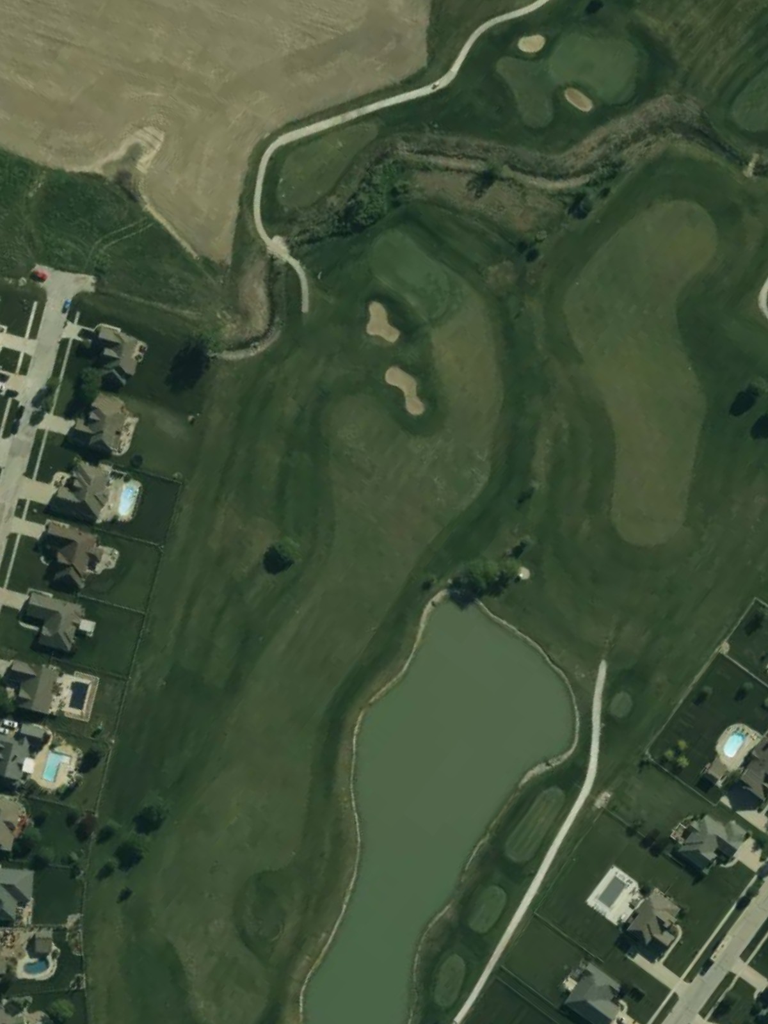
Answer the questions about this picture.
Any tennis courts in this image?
No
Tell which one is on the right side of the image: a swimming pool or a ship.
swimming pool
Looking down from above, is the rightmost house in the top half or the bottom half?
bottom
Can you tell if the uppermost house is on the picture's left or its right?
left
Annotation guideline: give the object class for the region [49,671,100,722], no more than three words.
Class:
swimming pool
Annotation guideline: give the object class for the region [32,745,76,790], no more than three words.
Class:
swimming pool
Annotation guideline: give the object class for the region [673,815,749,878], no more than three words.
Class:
house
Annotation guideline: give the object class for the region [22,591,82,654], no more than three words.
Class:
house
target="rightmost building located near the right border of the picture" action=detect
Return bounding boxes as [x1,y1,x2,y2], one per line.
[731,736,768,807]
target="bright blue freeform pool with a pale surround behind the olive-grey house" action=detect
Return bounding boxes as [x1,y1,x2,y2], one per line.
[97,477,142,524]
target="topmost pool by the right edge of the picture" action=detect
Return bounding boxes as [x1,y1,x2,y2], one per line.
[716,723,762,772]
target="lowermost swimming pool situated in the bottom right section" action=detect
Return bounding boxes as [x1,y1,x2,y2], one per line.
[587,866,642,925]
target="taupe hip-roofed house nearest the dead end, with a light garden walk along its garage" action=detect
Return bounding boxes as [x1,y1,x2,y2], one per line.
[95,327,140,391]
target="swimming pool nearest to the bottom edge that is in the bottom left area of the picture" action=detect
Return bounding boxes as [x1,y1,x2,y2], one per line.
[17,945,60,980]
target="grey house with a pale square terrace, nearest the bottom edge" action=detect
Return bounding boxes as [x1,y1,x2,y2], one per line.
[563,962,629,1024]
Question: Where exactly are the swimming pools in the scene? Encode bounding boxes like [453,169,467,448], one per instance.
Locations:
[17,945,60,980]
[587,866,642,925]
[49,671,100,722]
[97,477,142,524]
[716,723,762,772]
[32,745,76,790]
